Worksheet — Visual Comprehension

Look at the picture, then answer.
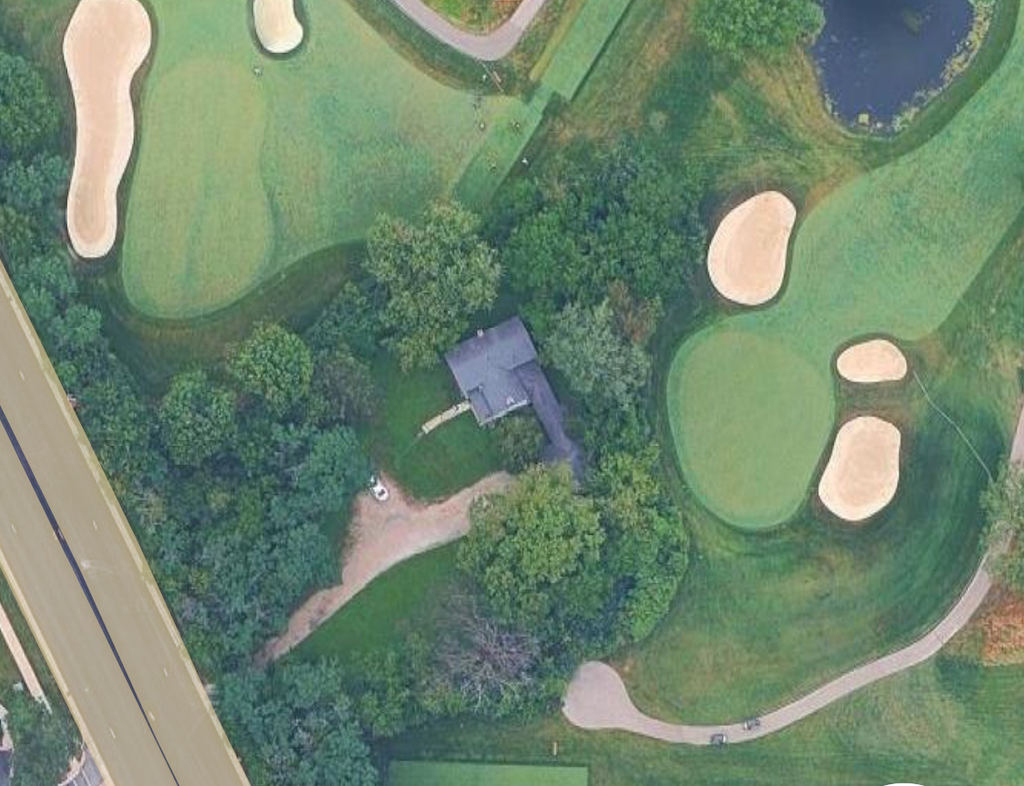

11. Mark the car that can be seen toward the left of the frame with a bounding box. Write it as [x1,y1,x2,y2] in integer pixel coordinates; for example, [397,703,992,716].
[371,478,391,504]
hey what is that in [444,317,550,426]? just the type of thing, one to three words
house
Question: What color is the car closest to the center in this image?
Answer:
white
